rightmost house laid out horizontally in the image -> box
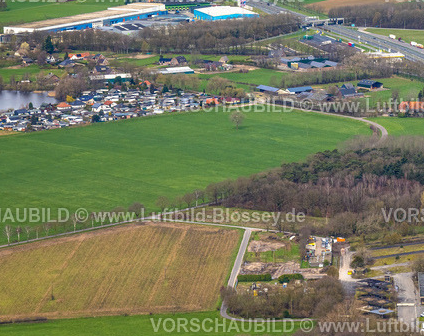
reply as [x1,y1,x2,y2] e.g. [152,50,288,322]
[397,101,424,114]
